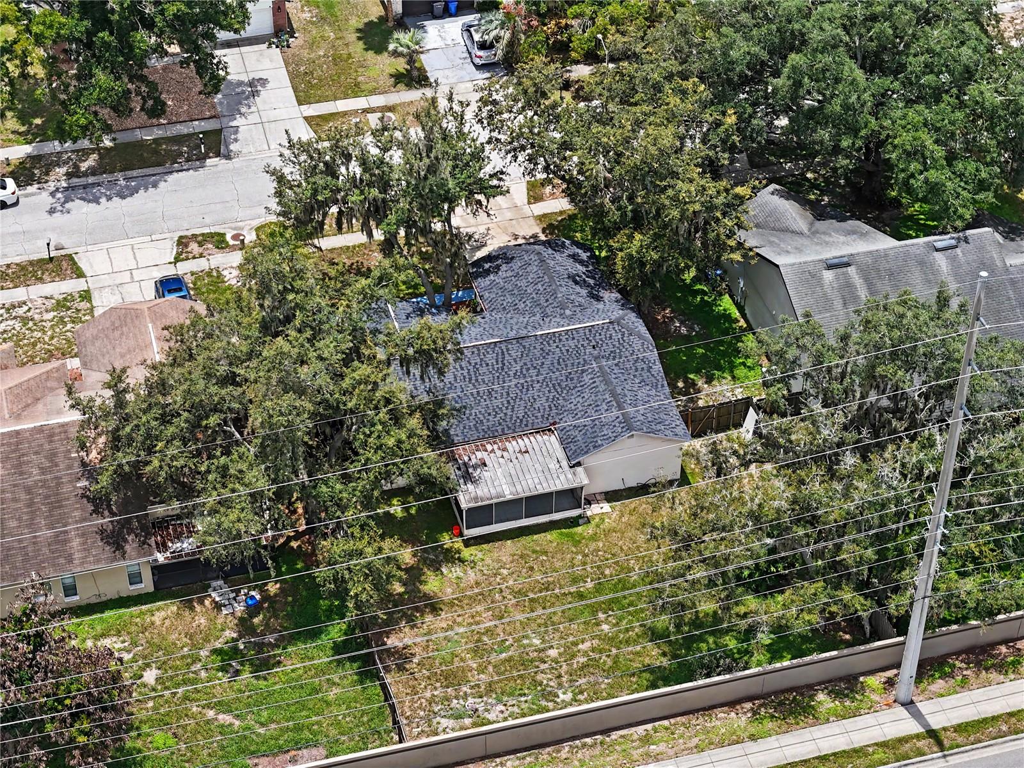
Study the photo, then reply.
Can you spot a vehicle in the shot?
Yes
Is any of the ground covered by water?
No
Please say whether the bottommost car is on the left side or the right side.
left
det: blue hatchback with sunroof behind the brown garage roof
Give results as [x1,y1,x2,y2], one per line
[158,269,192,297]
